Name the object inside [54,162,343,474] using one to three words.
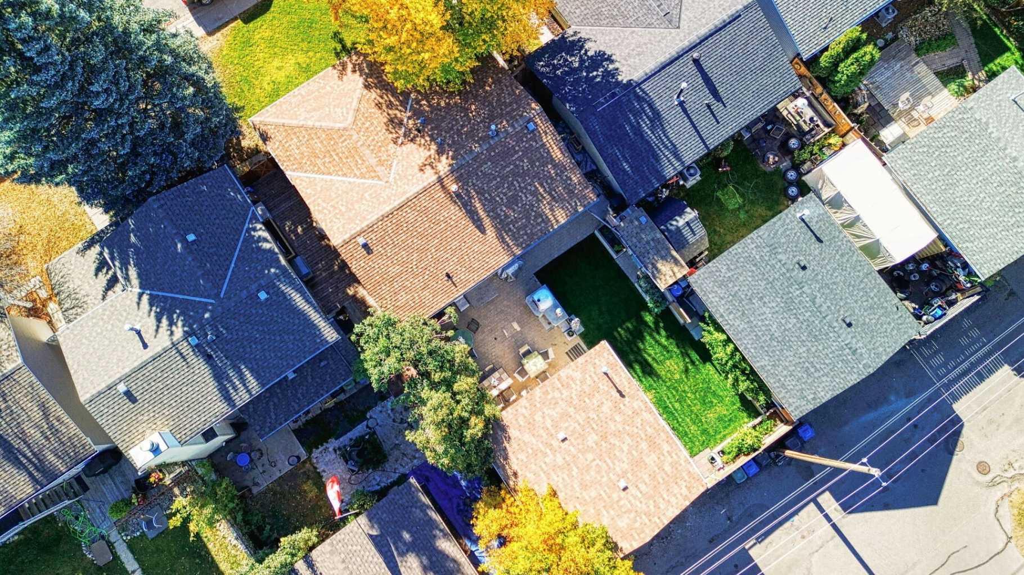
house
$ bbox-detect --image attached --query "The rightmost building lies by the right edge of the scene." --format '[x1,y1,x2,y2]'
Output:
[881,64,1024,282]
